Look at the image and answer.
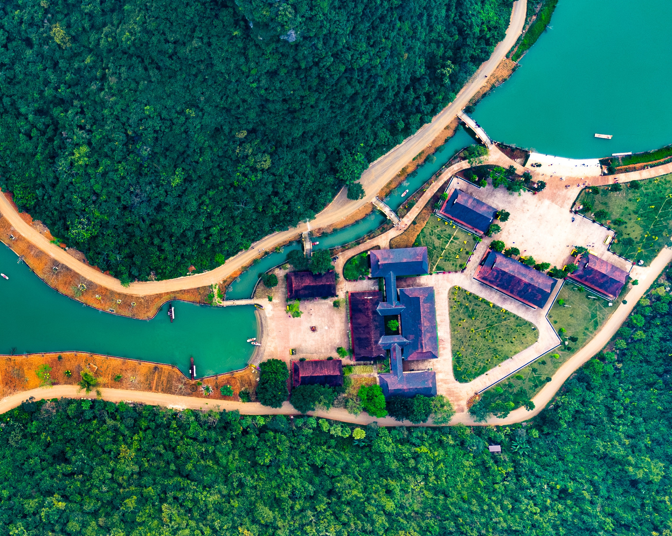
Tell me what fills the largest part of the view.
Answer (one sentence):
The scene is dominated by trees.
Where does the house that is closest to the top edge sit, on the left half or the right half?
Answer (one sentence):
The house that is closest to the top edge is on the right side of the image.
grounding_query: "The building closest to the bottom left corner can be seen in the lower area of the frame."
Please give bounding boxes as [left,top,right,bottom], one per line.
[293,360,342,387]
